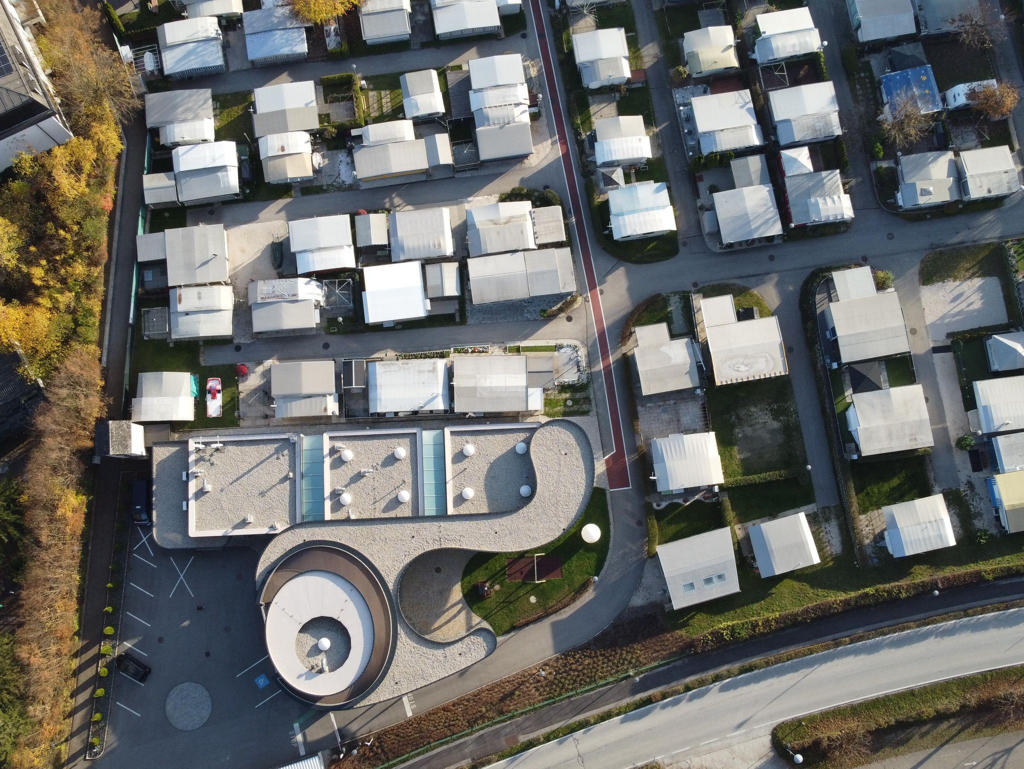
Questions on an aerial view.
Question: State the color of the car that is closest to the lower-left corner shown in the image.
black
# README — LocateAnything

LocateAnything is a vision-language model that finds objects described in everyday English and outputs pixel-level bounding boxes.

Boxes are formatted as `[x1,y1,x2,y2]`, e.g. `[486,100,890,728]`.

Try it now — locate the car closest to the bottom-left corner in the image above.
[112,651,155,684]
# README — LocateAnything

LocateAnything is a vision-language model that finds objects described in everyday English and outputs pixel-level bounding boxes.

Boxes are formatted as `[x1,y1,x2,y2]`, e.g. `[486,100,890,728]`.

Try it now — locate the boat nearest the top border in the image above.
[144,52,158,74]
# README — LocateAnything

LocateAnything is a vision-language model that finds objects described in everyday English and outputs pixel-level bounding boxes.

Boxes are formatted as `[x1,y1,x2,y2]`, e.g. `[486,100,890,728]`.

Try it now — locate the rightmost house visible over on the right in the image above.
[823,267,911,363]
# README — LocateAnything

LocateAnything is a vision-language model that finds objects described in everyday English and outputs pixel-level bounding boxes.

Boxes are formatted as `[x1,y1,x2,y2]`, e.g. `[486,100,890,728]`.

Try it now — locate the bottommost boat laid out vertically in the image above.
[207,377,222,418]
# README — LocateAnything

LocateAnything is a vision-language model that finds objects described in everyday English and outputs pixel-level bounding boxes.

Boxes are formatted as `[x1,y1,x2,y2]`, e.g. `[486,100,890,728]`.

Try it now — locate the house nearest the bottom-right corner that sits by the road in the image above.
[655,526,740,610]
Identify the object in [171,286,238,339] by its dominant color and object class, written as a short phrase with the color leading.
white camper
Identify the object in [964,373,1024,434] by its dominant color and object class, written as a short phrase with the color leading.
white camper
